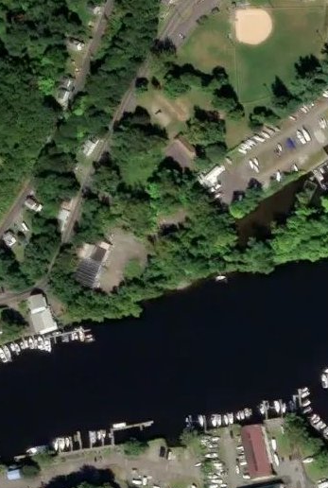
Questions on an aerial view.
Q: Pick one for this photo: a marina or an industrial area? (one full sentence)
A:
What you see here is a marina.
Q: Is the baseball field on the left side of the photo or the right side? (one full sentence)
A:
The baseball field appears in the right half of the scene.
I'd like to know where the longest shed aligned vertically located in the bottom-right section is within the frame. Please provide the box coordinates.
[240,425,274,477]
